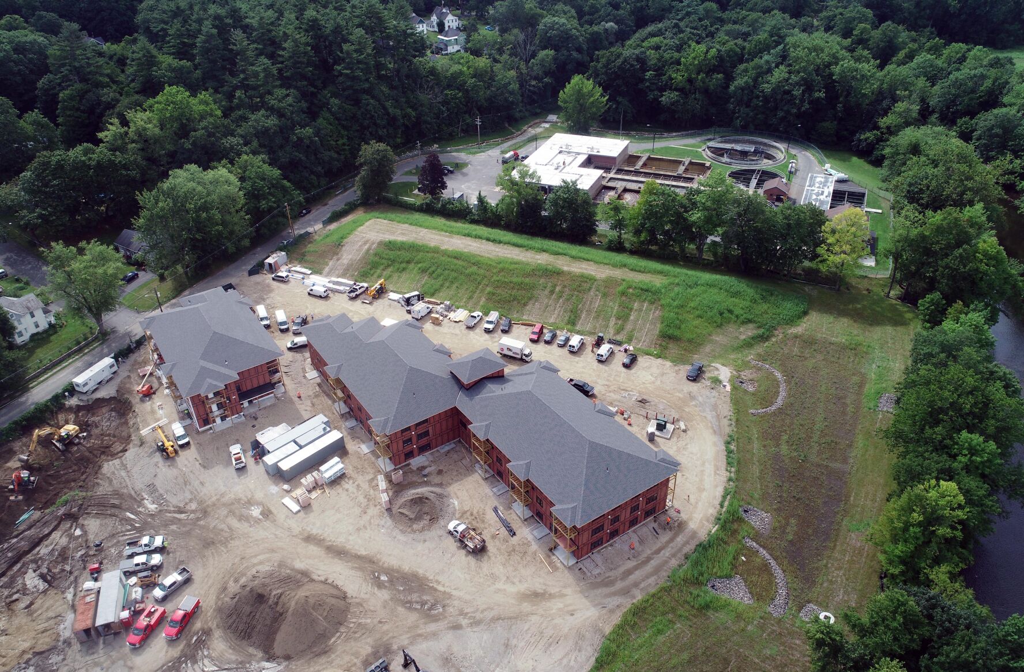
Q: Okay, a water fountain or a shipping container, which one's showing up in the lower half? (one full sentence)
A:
What appears in the lower half is a shipping container.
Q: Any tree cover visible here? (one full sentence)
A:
Yes, the picture does contain tree cover.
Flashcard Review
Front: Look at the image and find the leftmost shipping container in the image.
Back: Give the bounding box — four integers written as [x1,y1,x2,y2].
[74,592,100,644]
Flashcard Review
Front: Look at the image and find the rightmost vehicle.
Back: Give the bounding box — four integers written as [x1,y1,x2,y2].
[686,360,706,380]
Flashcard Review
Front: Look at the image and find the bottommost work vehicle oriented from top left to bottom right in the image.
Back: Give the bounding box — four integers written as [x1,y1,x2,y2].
[394,647,429,672]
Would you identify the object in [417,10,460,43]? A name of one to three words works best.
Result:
house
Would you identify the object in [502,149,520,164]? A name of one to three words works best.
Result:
vehicle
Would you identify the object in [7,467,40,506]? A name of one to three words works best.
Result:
work vehicle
